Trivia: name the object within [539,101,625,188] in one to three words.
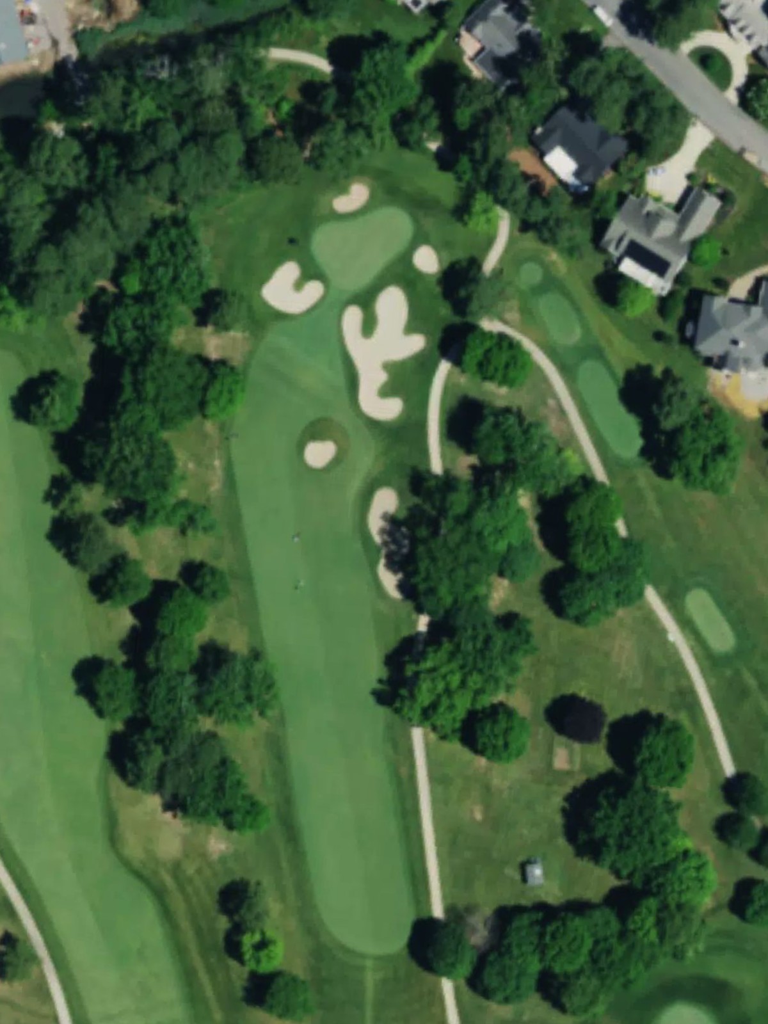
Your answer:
house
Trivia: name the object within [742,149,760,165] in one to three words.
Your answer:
car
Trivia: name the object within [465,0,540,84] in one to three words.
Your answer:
house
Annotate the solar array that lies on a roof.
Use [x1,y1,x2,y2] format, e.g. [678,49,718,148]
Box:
[625,240,672,277]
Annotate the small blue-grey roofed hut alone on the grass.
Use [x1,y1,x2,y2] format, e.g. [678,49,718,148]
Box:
[525,856,543,887]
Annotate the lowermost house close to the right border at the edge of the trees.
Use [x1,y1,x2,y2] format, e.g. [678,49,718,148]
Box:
[692,268,768,375]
